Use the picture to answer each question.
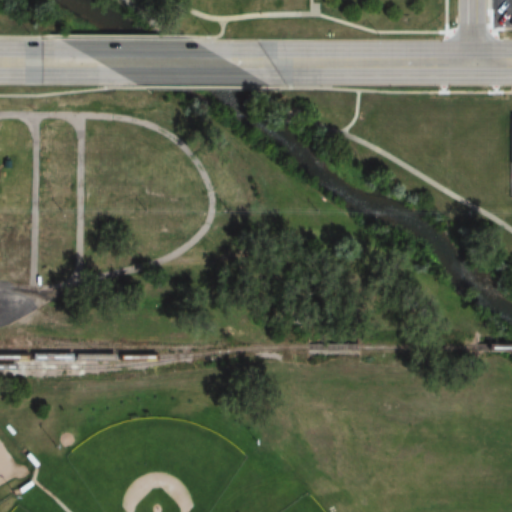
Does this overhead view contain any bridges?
Yes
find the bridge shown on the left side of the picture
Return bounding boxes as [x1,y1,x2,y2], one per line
[50,35,276,90]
